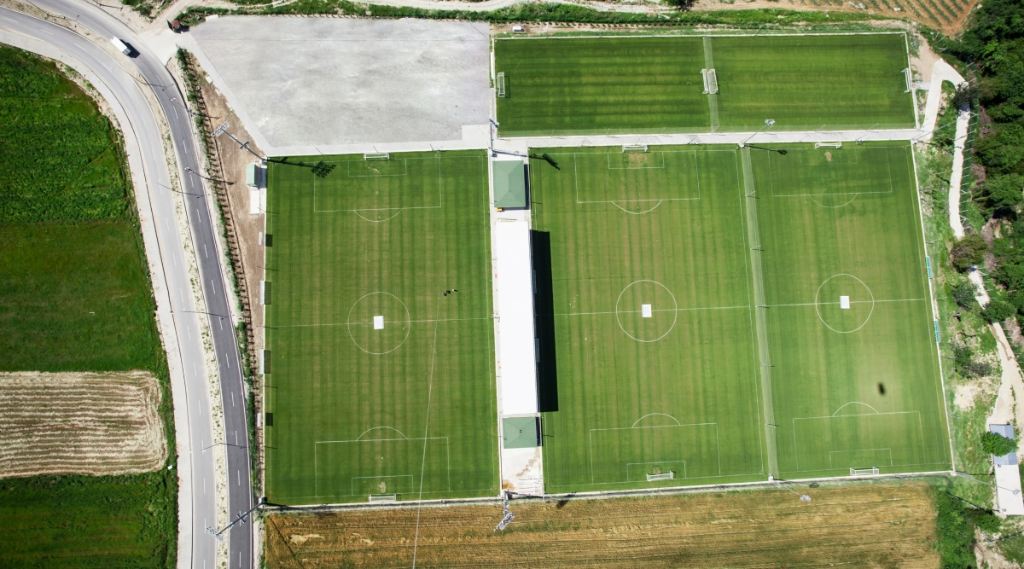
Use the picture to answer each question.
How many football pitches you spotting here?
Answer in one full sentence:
I count 4 football pitches.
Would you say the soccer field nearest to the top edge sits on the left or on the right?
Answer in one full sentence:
You can find the soccer field nearest to the top edge on the right side of the picture.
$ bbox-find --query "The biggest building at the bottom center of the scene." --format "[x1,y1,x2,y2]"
[503,417,537,449]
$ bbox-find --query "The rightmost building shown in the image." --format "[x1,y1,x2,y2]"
[985,424,1024,514]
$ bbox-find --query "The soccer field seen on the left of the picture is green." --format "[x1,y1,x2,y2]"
[261,148,503,508]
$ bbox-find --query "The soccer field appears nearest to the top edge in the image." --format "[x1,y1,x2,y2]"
[492,31,919,140]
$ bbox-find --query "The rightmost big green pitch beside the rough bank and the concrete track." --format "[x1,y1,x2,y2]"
[741,139,955,482]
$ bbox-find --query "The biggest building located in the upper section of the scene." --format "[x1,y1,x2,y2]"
[492,160,526,207]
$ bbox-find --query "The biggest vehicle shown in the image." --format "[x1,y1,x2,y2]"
[110,36,138,60]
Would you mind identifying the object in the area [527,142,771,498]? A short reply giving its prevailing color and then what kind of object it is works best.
green soccer field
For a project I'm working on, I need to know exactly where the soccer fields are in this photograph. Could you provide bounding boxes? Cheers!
[741,139,955,482]
[261,148,503,508]
[492,31,919,140]
[527,142,771,498]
